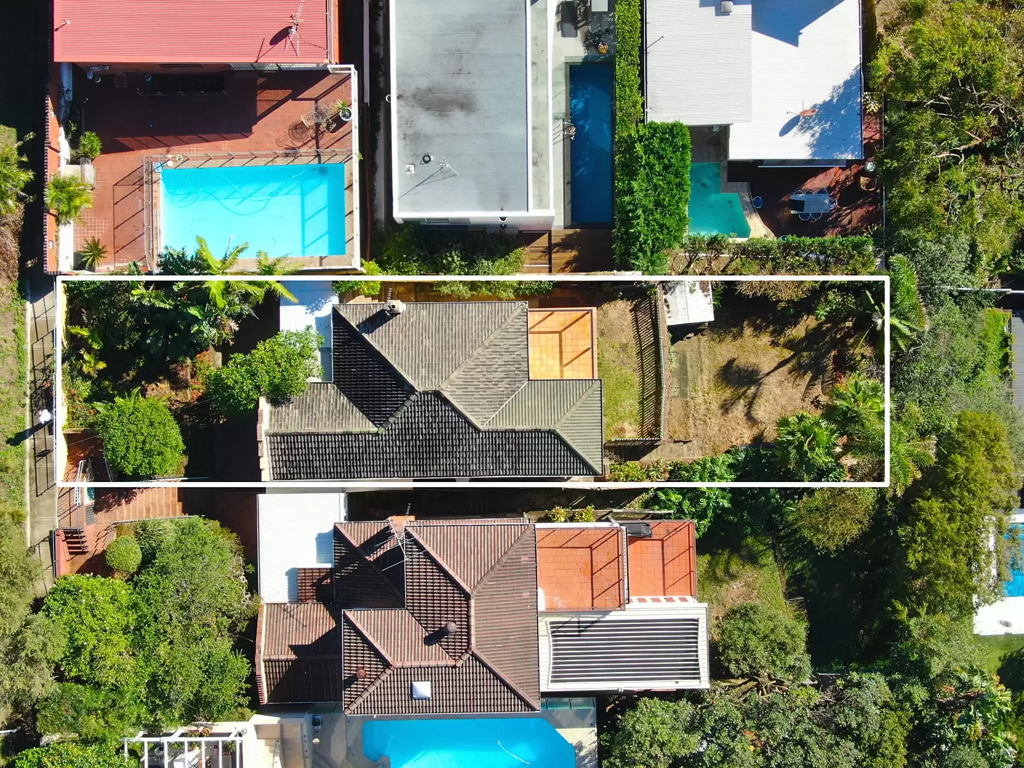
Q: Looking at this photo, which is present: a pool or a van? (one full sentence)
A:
The one in the frame is a pool.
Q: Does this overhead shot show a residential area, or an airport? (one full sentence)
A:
It's a residential area.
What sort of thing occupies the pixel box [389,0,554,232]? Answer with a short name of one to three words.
house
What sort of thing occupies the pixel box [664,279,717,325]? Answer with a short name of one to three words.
shed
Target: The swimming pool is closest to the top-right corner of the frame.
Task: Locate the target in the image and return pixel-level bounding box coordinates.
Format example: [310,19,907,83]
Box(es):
[684,160,773,240]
